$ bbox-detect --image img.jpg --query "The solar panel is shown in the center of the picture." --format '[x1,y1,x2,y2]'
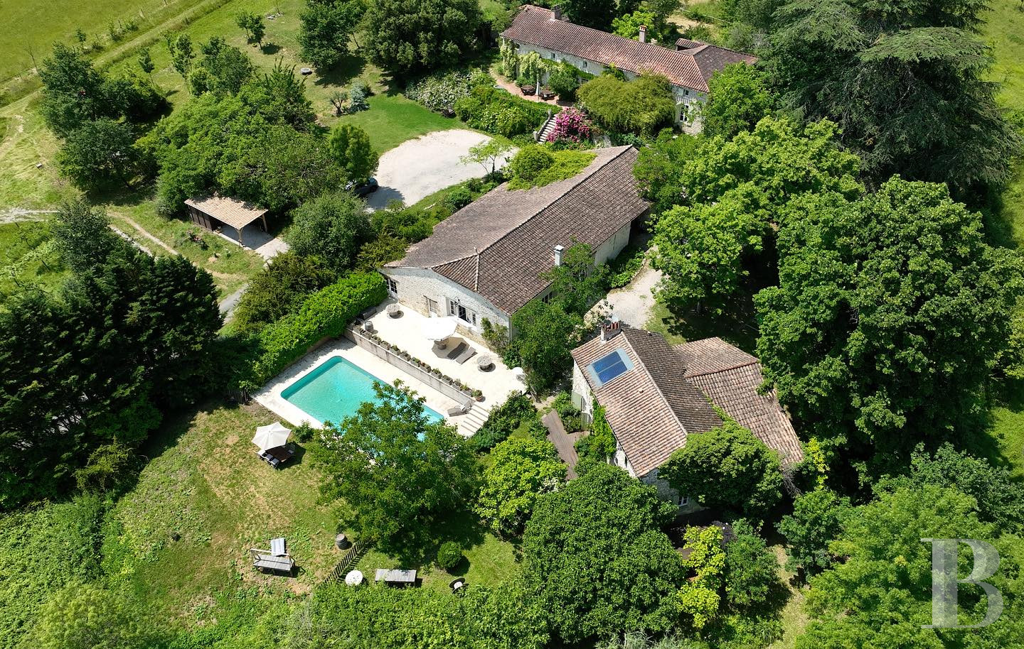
[586,346,635,384]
